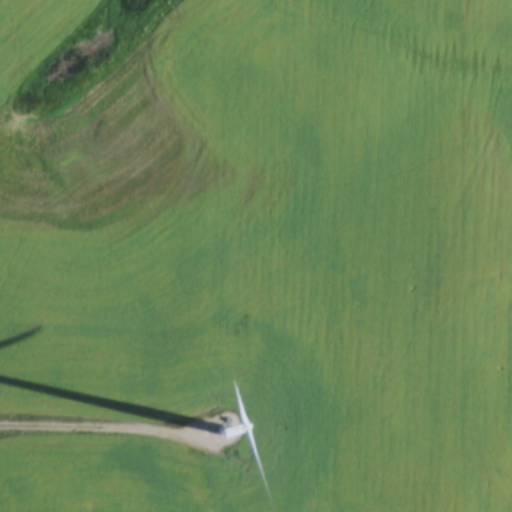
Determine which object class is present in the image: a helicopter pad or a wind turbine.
wind turbine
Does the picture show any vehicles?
No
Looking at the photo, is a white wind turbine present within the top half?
No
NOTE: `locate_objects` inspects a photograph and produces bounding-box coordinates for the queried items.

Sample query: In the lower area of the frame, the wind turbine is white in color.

[224,376,268,501]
